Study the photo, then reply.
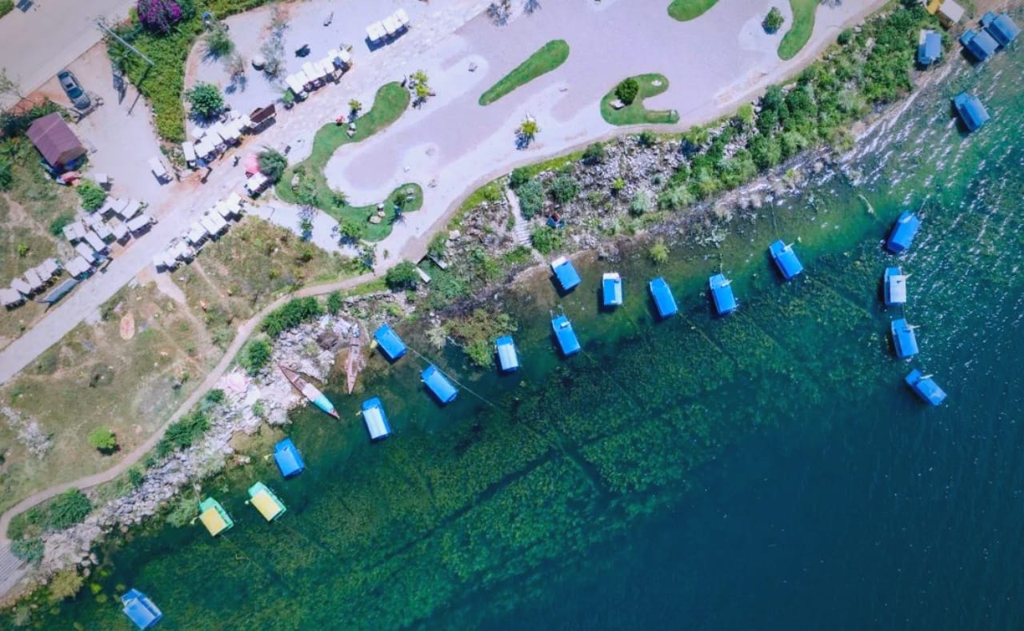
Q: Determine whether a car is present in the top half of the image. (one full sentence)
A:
Yes, a car shows up in the top half of the image.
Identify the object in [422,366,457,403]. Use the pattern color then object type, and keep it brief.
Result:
blue boat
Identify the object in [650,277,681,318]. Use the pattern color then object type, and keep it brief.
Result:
blue boat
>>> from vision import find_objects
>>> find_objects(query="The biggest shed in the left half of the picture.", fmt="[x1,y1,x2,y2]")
[27,111,86,167]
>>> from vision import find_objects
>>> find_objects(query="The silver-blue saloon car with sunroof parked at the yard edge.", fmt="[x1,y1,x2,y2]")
[56,68,92,110]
